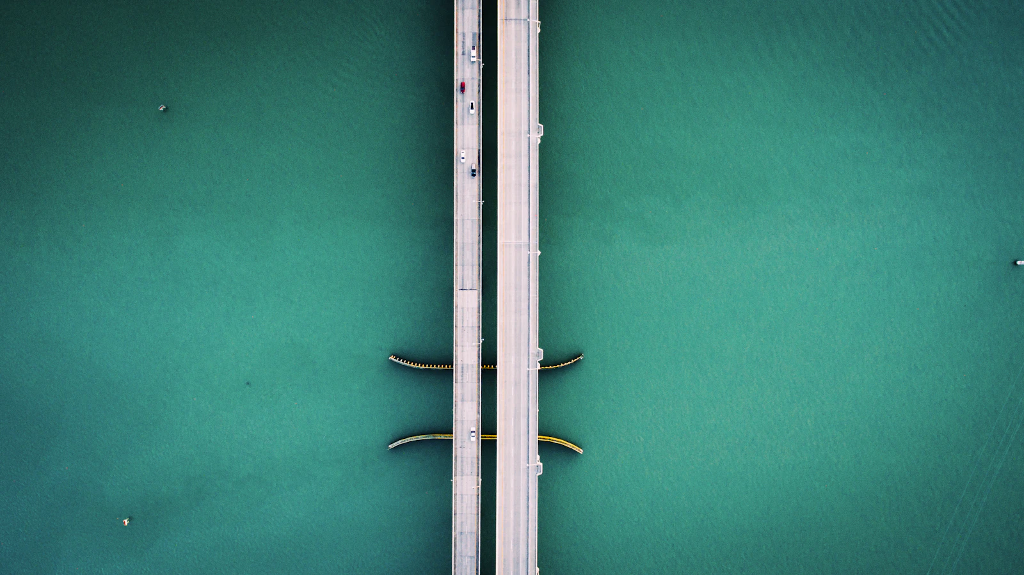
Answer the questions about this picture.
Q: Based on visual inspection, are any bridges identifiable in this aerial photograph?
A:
Yes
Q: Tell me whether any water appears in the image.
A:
Yes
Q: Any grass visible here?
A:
No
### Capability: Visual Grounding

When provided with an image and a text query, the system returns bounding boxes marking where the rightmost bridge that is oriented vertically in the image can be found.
[496,0,544,575]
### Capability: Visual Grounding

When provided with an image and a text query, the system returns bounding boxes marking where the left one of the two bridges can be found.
[452,0,482,575]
